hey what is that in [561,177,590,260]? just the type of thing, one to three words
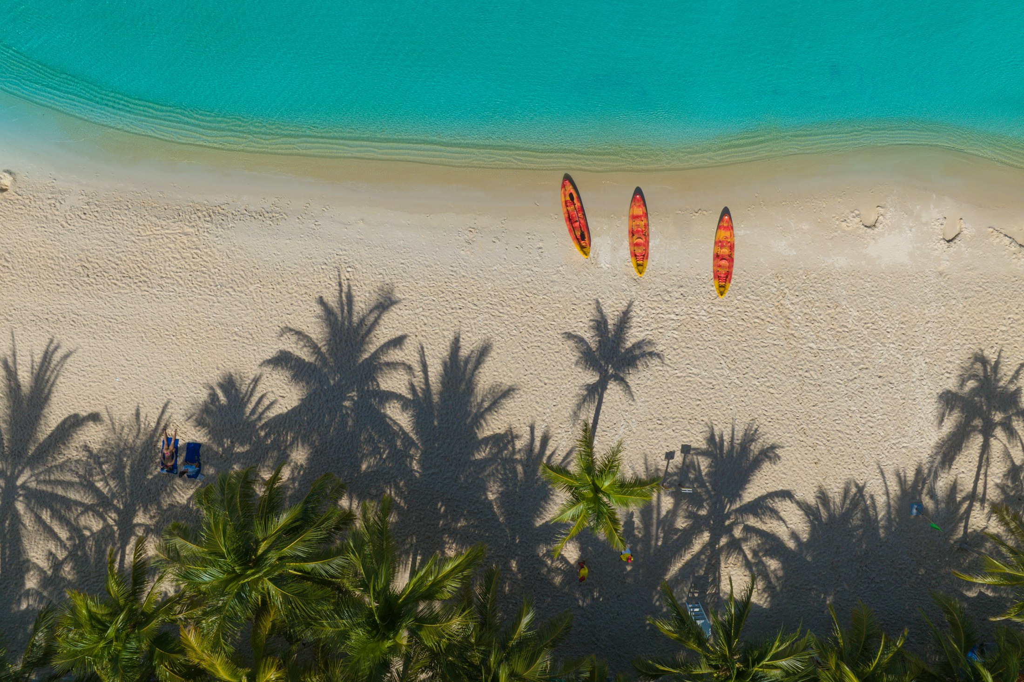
boat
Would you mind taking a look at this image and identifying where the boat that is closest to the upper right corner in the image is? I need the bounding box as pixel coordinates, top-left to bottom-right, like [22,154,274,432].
[712,213,734,298]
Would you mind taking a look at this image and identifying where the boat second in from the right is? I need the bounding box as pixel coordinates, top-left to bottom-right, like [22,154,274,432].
[629,193,650,278]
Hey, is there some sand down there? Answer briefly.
Yes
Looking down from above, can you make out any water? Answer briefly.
Yes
